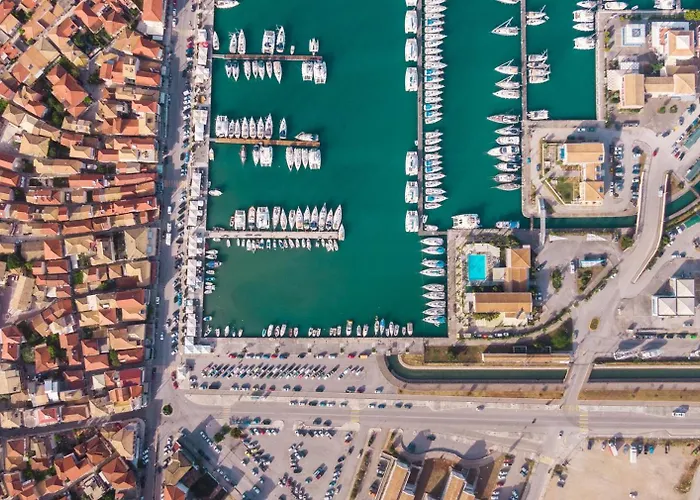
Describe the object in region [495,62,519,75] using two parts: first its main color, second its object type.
white boat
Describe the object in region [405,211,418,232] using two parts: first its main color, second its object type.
white boat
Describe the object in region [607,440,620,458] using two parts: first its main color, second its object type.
white vehicle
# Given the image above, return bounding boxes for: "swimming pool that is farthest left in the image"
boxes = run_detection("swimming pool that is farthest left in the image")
[464,242,500,288]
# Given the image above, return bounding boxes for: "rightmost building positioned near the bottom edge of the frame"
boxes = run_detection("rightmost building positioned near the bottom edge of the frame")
[439,460,481,500]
